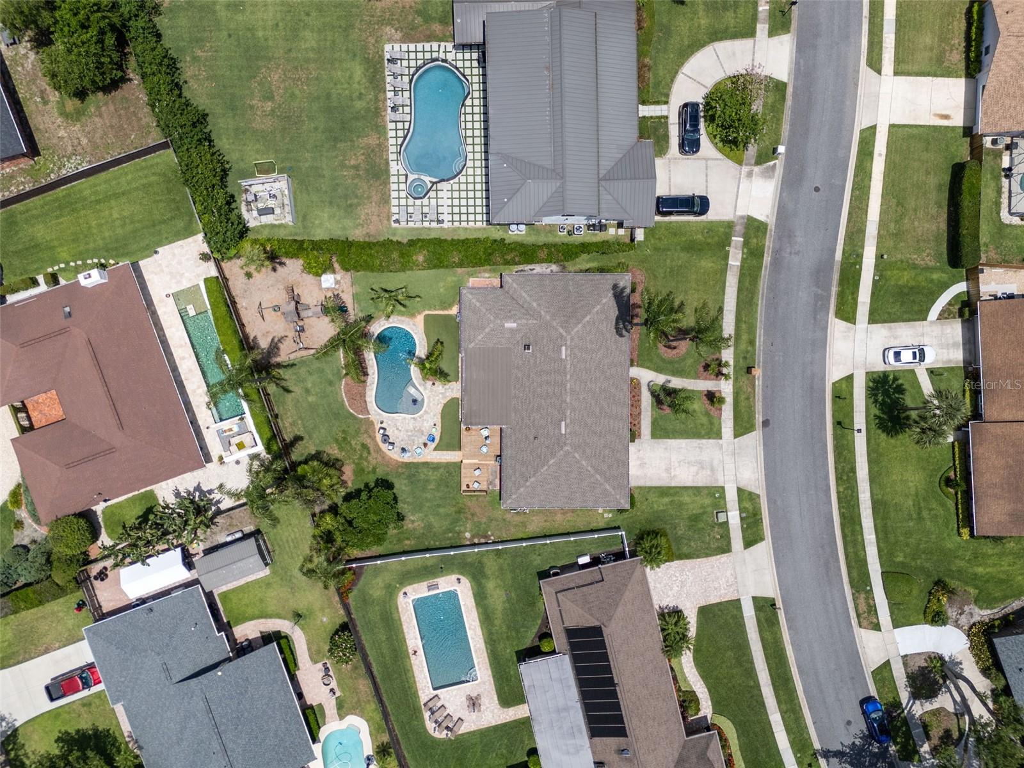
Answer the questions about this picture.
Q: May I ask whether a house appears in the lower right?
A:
Yes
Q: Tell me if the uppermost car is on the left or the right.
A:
right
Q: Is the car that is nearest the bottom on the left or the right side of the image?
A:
right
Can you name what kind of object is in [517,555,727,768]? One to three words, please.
house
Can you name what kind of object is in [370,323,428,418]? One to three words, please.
swimming pool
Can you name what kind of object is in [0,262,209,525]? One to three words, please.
house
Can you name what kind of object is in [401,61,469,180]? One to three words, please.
swimming pool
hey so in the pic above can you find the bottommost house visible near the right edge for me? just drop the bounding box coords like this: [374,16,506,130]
[988,629,1024,713]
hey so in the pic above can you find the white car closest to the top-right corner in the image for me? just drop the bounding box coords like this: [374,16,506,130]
[883,343,936,367]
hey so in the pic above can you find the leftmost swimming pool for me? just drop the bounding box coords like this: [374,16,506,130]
[170,282,248,426]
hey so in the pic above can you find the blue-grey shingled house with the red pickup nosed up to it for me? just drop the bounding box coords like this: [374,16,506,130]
[81,584,319,768]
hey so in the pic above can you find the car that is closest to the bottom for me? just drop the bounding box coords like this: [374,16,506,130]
[858,695,895,747]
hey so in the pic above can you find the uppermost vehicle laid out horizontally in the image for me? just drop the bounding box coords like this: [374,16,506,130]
[655,192,709,217]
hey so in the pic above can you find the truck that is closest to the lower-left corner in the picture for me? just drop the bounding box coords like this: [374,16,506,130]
[43,663,101,701]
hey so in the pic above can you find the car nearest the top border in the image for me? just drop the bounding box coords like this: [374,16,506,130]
[679,100,705,156]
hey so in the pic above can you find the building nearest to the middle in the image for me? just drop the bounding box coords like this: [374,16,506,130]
[460,273,631,510]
